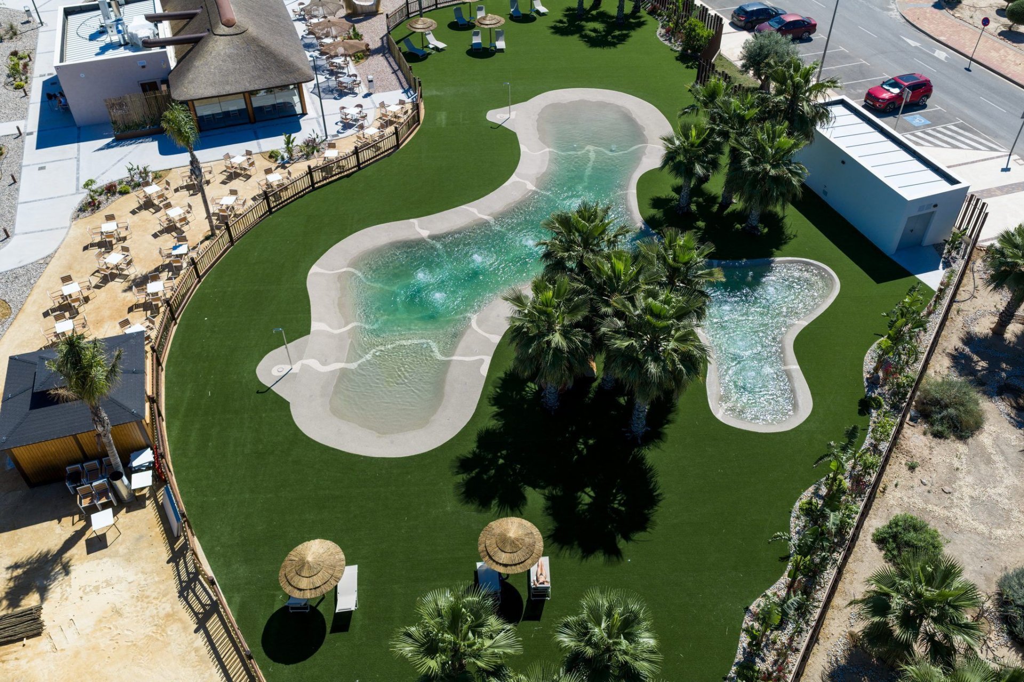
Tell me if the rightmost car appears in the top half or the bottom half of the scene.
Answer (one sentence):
Seen from above, the rightmost car lies in the top half of the view.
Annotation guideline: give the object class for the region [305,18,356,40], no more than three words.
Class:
umbrella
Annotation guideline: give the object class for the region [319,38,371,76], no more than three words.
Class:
umbrella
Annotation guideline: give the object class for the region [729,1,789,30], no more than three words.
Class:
car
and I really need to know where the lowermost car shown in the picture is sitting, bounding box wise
[865,67,940,108]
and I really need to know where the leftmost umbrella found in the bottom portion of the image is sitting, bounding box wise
[278,542,347,602]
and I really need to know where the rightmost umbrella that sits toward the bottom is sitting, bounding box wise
[477,520,544,578]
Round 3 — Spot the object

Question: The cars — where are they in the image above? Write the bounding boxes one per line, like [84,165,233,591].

[729,1,789,30]
[754,12,819,41]
[865,67,940,108]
